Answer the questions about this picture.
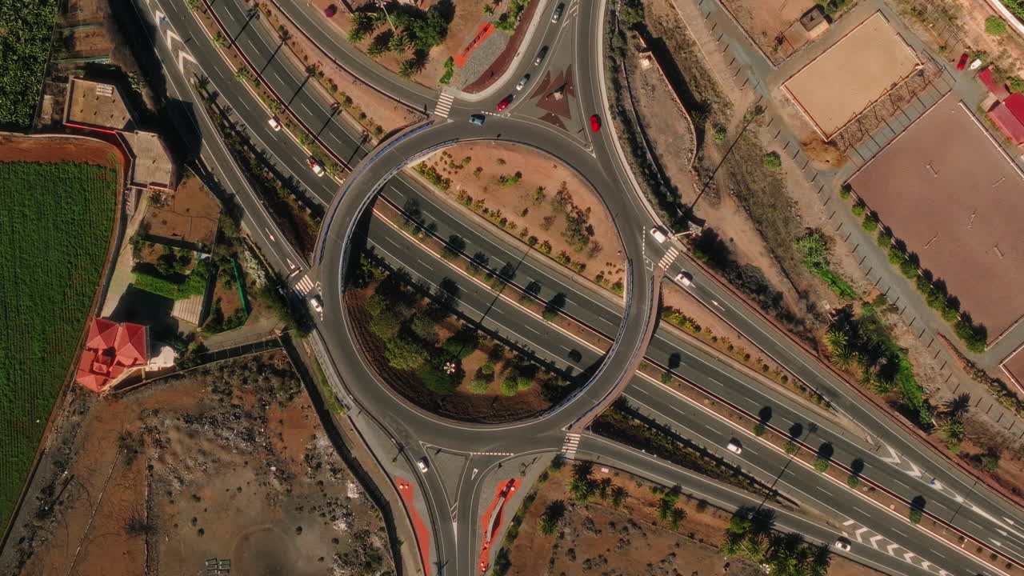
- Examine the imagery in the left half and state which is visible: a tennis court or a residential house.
residential house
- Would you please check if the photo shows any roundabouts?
Yes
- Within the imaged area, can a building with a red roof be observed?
Yes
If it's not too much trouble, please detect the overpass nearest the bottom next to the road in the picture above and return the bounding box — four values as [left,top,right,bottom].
[563,242,660,430]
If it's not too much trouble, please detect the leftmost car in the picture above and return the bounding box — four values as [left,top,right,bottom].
[266,116,281,131]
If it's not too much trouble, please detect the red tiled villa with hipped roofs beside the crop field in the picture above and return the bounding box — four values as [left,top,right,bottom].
[76,318,158,395]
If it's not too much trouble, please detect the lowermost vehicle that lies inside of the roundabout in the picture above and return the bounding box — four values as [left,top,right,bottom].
[310,296,323,313]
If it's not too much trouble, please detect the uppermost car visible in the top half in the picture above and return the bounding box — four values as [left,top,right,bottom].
[551,1,565,23]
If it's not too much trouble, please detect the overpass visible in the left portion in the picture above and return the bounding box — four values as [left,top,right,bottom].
[311,119,441,284]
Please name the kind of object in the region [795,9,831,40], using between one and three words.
shed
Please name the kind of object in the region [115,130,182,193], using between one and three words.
building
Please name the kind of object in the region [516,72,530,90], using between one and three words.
car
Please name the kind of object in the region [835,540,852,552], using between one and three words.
vehicle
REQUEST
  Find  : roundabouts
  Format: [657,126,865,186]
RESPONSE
[297,96,680,453]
